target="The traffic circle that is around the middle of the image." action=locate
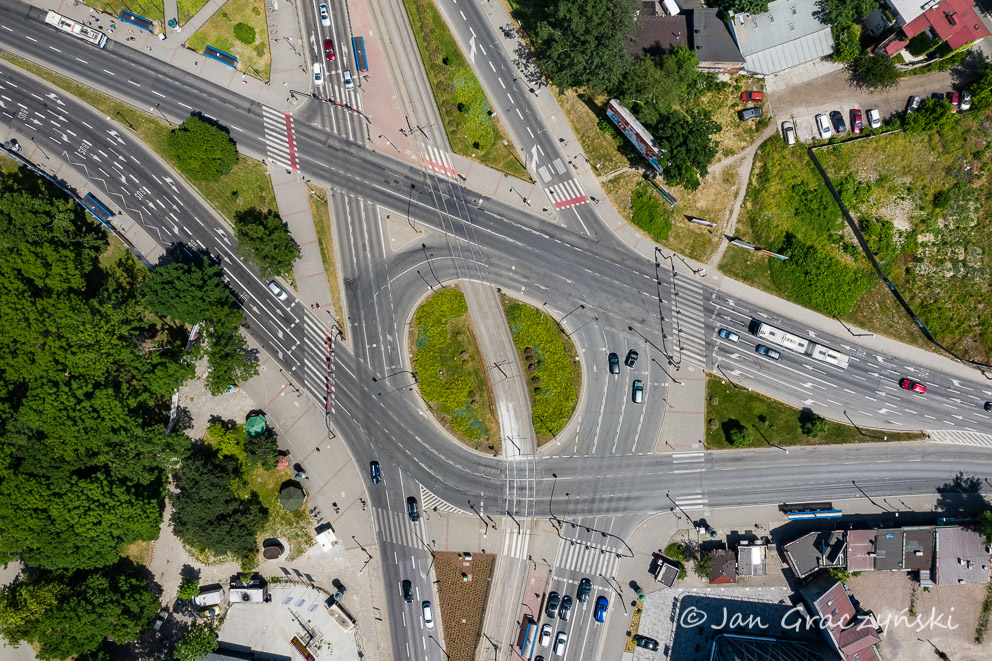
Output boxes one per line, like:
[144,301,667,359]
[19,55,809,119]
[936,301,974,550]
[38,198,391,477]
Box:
[406,279,586,458]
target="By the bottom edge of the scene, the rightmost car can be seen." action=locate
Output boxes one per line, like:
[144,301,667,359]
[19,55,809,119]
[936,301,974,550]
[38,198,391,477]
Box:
[634,632,662,652]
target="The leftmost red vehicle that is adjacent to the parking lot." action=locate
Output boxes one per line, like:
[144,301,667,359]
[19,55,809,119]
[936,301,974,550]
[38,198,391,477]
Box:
[741,90,763,103]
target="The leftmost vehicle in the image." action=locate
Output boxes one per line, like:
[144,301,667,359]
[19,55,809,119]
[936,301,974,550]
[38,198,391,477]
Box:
[40,3,113,54]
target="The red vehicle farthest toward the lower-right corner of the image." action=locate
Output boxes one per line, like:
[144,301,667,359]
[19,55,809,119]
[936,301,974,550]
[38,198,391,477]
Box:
[896,377,926,394]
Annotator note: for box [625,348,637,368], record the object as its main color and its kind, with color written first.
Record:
black vehicle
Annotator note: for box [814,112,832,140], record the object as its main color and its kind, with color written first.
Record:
white car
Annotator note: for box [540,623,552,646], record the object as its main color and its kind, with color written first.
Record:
white vehicle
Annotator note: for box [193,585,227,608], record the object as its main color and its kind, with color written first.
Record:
white vehicle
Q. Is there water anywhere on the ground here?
No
